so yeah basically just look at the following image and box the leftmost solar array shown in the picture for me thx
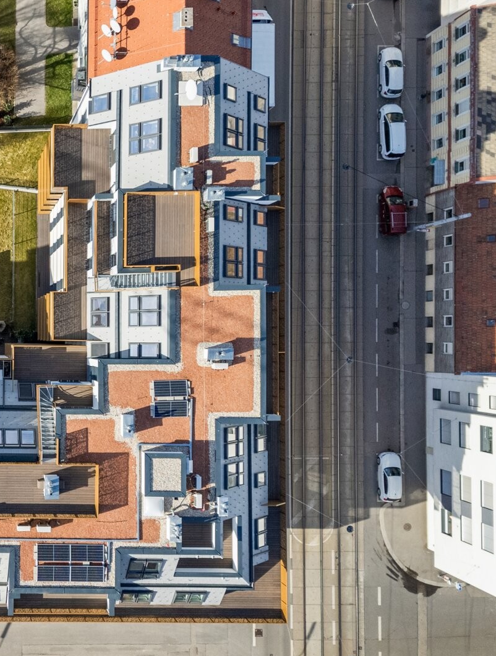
[31,542,110,581]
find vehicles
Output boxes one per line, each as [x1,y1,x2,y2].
[372,107,404,162]
[372,49,403,101]
[253,0,275,115]
[371,451,402,502]
[372,187,404,235]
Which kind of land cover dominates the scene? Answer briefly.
buildings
